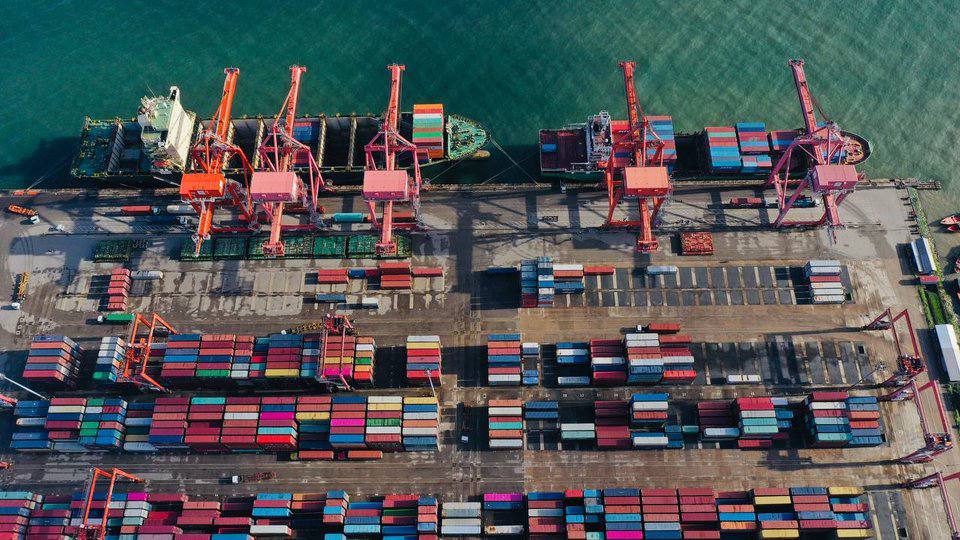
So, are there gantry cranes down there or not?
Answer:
Yes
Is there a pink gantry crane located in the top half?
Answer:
Yes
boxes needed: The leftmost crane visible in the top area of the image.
[172,64,267,252]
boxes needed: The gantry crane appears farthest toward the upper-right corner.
[764,60,871,248]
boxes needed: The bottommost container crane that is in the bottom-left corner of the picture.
[73,467,150,540]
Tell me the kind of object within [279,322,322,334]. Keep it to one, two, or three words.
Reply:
vehicle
